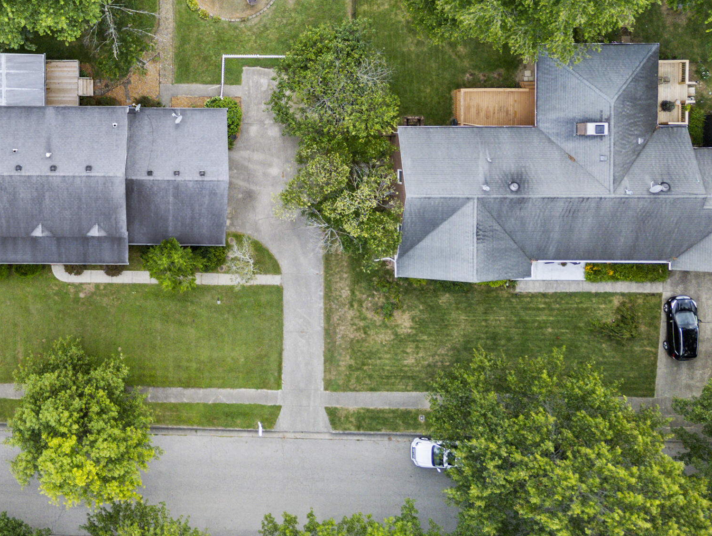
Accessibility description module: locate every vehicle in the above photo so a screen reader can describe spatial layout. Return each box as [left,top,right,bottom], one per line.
[412,438,479,472]
[662,293,703,360]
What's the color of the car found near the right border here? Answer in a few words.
black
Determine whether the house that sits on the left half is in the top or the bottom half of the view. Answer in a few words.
top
